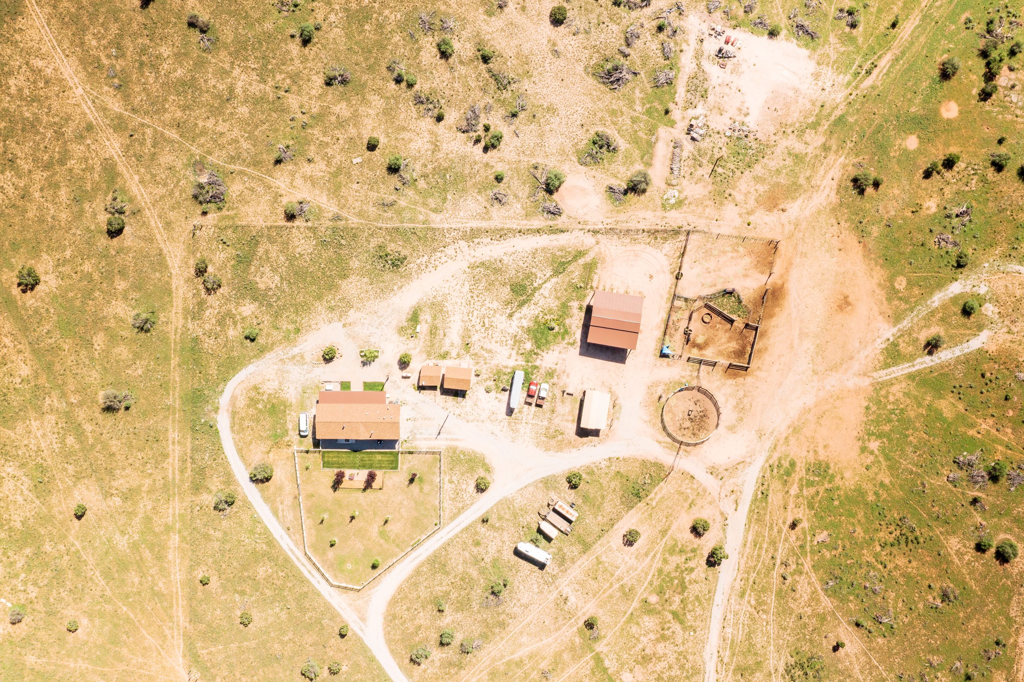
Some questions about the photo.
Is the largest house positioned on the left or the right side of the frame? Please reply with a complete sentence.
It is on the left.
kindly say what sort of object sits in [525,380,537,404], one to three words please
vehicle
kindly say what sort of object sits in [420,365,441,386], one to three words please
shed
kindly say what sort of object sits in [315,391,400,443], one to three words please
house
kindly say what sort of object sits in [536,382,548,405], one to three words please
vehicle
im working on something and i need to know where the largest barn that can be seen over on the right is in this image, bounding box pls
[586,291,643,350]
